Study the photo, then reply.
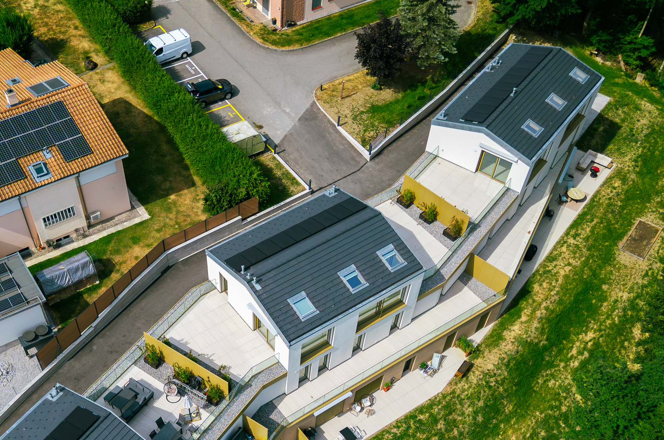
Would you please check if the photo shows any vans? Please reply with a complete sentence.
Yes, there's a van here.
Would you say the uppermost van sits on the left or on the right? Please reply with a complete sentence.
The uppermost van is on the left side of the image.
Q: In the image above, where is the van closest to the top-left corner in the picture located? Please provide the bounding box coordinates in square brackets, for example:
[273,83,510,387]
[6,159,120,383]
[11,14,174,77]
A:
[149,32,200,64]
